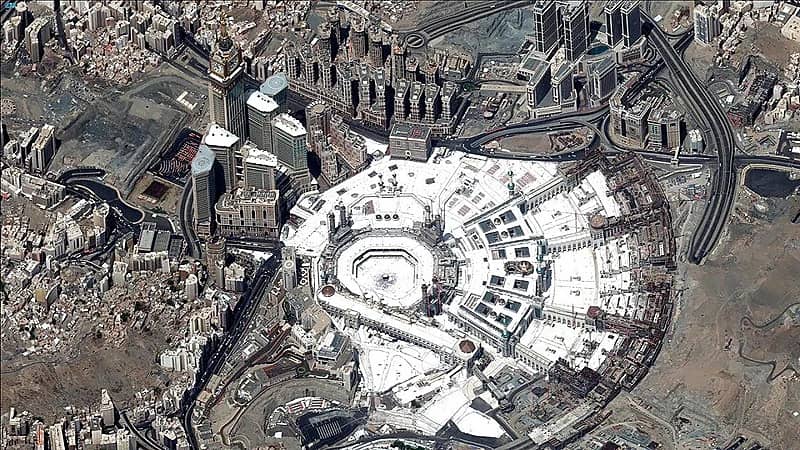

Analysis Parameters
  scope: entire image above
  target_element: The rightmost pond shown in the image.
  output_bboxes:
[745,166,800,198]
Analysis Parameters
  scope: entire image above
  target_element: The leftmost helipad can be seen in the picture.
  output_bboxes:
[195,154,212,168]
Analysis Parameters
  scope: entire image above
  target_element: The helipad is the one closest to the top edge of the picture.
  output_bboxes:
[267,76,283,89]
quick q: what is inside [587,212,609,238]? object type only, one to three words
building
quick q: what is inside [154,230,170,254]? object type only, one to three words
shed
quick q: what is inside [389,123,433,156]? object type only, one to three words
building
